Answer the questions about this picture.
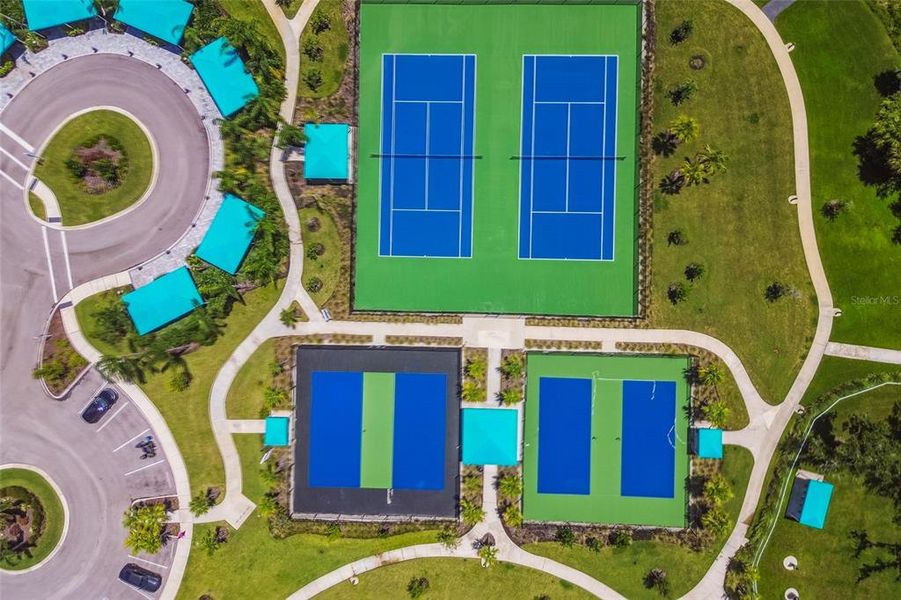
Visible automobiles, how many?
2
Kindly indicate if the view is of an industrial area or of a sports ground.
sports ground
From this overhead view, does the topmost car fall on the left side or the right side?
left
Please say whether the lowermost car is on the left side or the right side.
left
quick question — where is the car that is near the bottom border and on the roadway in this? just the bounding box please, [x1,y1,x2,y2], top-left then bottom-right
[121,562,164,591]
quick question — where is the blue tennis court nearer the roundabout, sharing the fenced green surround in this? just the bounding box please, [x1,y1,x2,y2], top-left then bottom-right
[355,0,500,314]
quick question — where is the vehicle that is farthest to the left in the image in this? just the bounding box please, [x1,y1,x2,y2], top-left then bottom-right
[83,388,121,423]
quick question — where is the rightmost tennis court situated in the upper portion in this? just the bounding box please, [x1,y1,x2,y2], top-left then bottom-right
[495,0,641,318]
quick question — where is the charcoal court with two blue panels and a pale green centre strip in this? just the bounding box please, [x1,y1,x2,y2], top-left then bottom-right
[289,343,464,521]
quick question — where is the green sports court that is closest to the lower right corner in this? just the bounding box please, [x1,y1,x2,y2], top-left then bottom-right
[519,349,692,532]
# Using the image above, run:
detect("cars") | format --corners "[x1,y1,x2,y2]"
[83,388,121,423]
[121,562,164,591]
